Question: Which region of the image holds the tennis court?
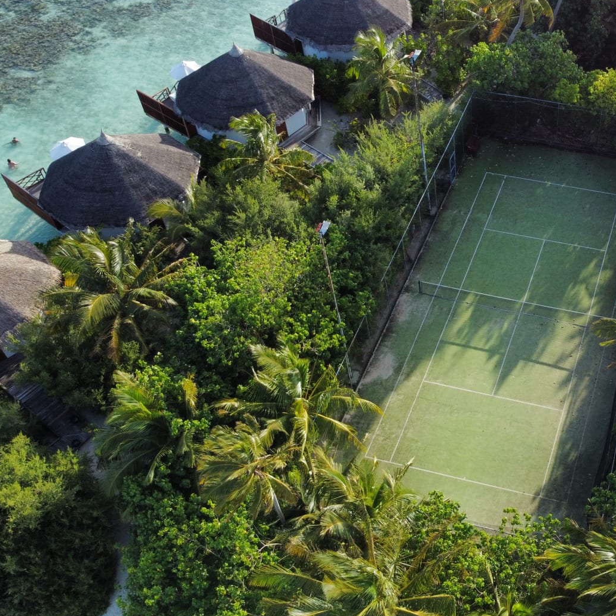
right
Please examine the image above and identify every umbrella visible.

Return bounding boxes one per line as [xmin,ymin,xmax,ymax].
[169,59,202,80]
[49,137,86,160]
